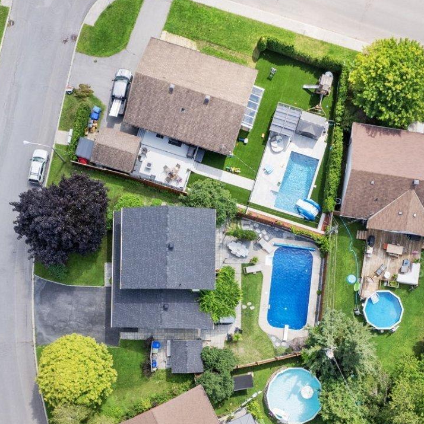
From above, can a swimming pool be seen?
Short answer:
Yes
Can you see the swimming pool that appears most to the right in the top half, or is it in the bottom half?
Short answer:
bottom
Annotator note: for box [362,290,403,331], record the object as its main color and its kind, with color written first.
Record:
blue swimming pool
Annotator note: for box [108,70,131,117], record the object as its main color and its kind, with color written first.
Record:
white truck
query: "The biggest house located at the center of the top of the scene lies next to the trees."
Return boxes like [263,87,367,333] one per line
[124,38,258,155]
